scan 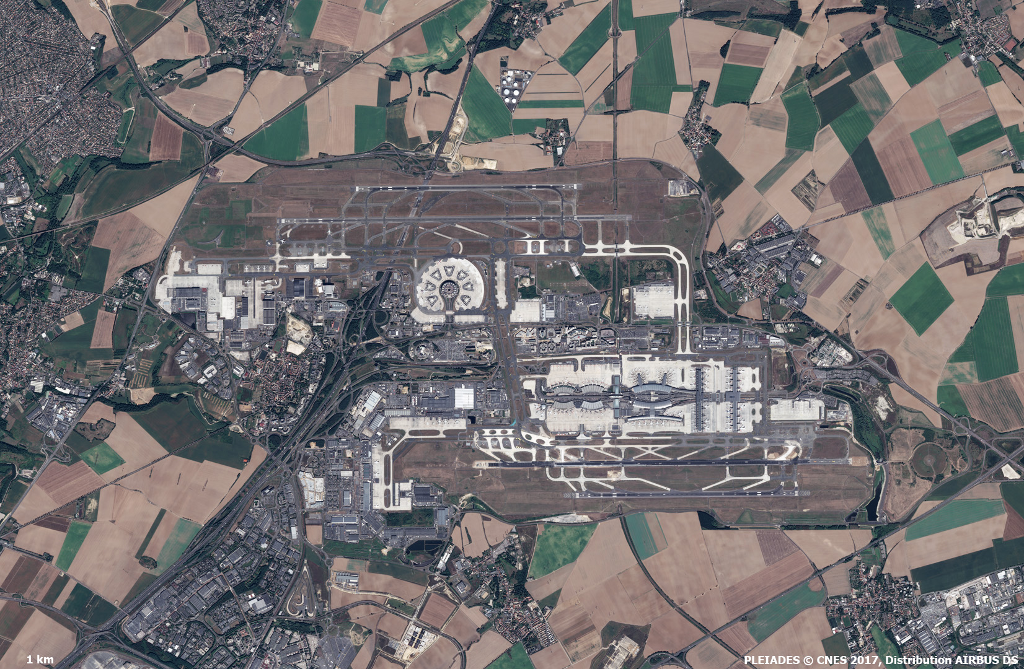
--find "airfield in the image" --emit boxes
[152,160,875,525]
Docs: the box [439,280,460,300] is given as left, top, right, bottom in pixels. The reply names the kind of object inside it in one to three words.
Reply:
building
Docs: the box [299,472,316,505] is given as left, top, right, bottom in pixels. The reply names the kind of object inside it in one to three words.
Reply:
building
